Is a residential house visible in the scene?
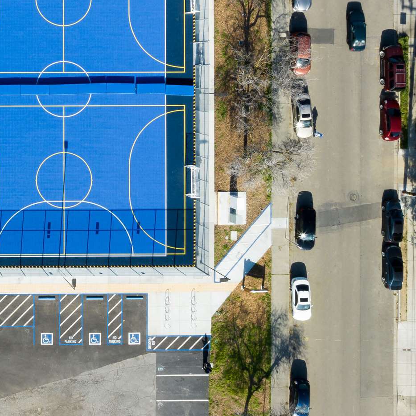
No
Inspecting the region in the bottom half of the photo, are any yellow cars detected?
No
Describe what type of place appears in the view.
sports ground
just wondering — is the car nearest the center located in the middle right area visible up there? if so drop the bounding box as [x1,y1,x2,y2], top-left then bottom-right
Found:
[293,207,317,250]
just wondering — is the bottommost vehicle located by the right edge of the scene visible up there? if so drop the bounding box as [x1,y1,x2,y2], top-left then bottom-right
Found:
[381,245,406,290]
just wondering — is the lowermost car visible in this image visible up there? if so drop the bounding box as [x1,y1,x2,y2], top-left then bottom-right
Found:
[289,378,311,416]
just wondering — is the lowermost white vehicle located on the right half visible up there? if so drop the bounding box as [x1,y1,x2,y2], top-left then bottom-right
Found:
[290,277,313,320]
